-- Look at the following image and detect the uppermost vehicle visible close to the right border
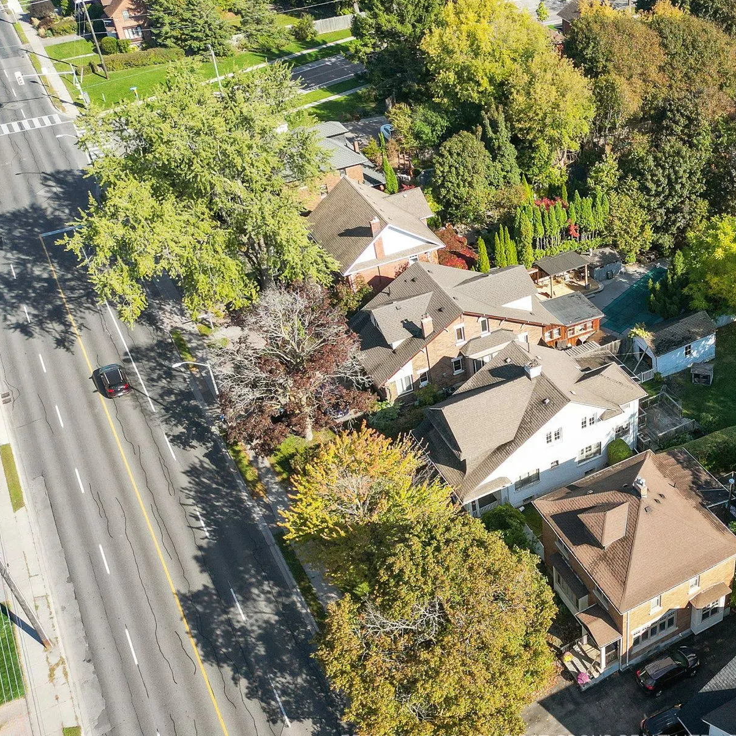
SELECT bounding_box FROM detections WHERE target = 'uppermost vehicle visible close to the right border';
[634,640,706,694]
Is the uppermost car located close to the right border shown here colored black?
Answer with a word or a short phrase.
Yes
